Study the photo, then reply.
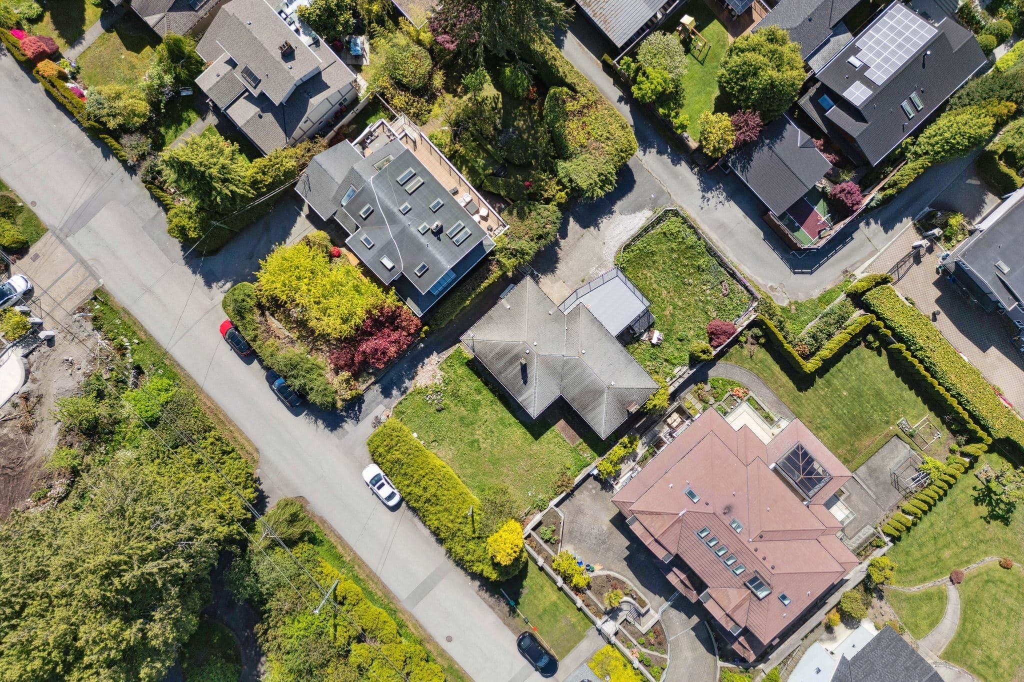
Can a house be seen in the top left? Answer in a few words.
Yes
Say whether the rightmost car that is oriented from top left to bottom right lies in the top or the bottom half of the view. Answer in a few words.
bottom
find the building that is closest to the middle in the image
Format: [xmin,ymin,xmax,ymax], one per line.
[460,267,659,440]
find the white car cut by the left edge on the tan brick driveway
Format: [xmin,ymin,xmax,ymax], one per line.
[0,277,34,313]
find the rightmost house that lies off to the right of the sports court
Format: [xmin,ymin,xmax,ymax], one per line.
[933,181,1024,333]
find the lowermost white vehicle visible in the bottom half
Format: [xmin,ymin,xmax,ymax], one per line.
[364,462,398,512]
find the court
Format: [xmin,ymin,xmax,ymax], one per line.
[756,185,836,245]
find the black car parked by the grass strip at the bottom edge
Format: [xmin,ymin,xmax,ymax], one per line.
[518,629,556,681]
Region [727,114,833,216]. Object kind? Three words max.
building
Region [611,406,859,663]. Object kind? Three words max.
house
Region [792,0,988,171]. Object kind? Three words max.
house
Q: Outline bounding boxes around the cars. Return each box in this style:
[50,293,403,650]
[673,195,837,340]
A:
[263,367,303,414]
[518,629,556,681]
[0,277,34,313]
[221,317,254,360]
[364,462,398,512]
